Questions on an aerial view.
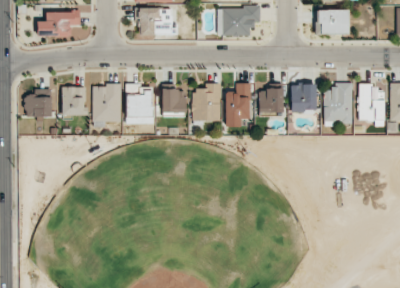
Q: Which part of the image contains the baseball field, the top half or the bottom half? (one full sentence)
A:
It is in the bottom half that the baseball field appears.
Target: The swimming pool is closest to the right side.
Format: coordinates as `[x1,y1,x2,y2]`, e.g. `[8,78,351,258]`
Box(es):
[296,118,315,130]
